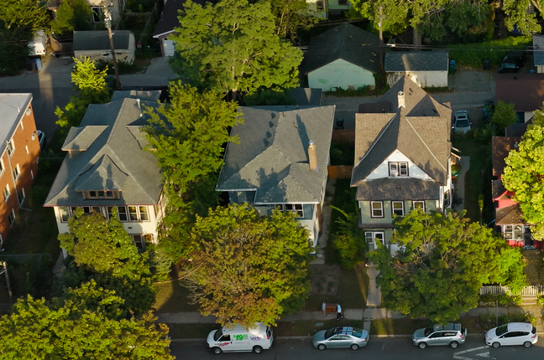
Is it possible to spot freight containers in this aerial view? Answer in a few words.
No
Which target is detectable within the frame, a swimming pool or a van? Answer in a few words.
van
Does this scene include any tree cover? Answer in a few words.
Yes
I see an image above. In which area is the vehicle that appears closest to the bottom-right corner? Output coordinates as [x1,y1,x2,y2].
[485,322,538,348]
